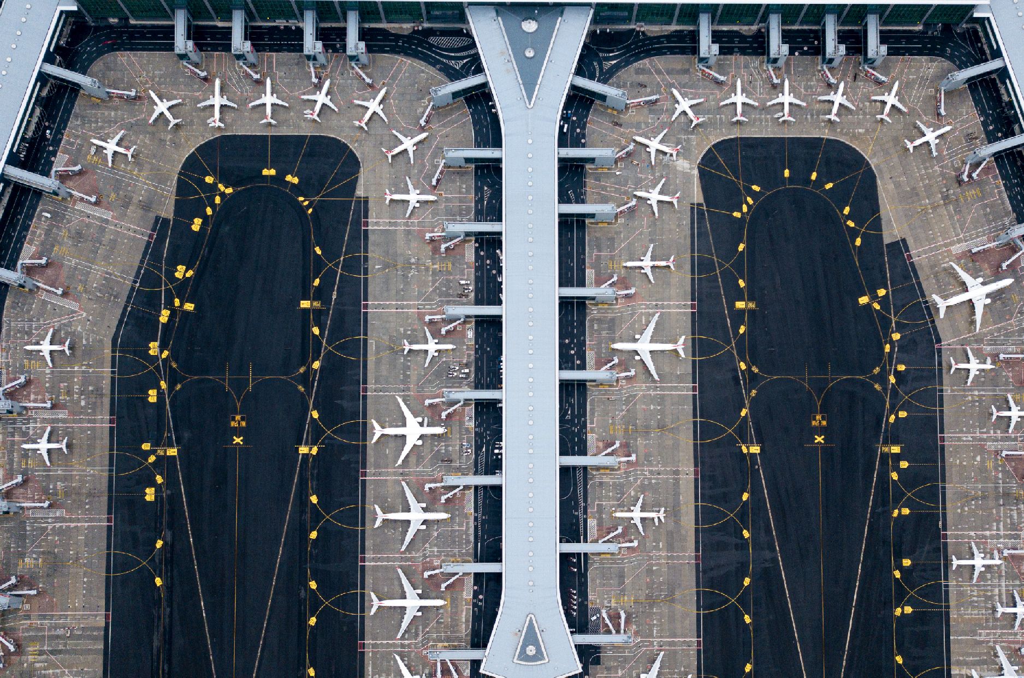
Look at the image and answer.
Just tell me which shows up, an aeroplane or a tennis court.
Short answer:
aeroplane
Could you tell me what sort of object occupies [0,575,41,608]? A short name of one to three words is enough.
jet bridge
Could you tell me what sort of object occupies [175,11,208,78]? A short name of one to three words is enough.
jet bridge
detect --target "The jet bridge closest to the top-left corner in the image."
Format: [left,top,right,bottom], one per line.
[41,62,138,100]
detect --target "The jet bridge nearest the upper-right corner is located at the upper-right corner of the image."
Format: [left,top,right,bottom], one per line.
[936,57,1005,117]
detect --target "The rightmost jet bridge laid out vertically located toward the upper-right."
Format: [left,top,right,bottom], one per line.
[862,15,888,84]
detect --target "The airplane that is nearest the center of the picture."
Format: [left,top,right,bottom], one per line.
[403,325,456,367]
